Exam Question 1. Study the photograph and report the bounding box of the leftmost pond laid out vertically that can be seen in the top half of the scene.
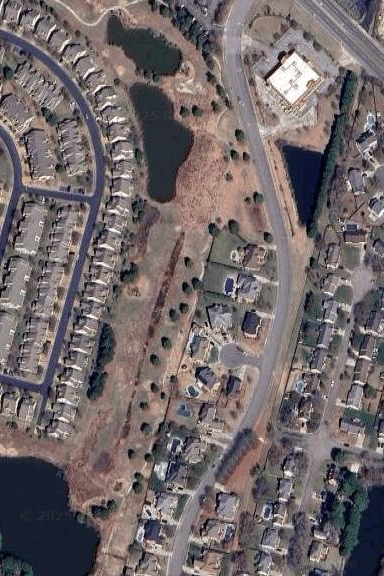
[131,83,195,201]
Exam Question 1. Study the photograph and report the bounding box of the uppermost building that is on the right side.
[267,51,325,105]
